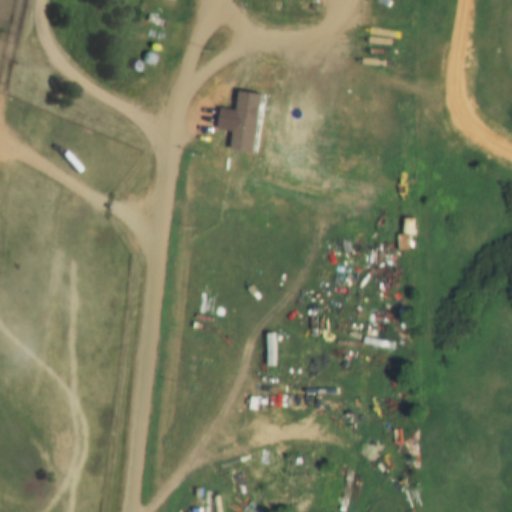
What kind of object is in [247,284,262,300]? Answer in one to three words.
camper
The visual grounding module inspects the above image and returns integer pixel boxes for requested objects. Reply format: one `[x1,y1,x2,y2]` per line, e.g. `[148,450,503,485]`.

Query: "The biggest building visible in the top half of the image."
[218,92,266,152]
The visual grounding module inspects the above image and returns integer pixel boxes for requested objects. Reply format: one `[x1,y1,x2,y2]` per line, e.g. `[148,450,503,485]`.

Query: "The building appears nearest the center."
[266,332,278,366]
